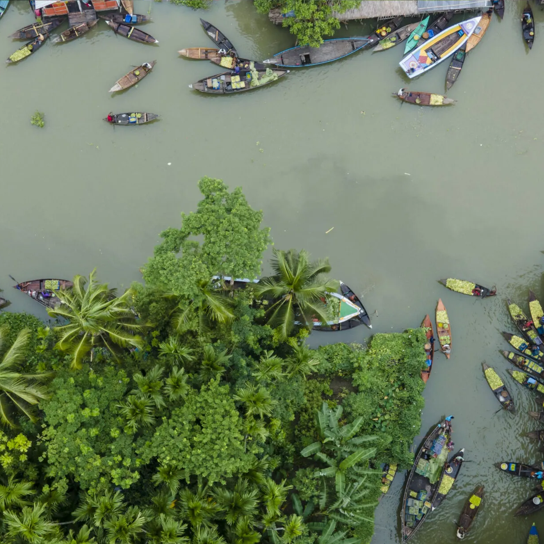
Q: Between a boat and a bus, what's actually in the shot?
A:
boat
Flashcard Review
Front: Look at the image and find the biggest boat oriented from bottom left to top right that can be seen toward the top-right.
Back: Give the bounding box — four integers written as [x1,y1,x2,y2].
[402,12,484,77]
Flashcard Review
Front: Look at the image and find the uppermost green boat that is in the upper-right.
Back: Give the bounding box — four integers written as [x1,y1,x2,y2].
[403,14,431,56]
